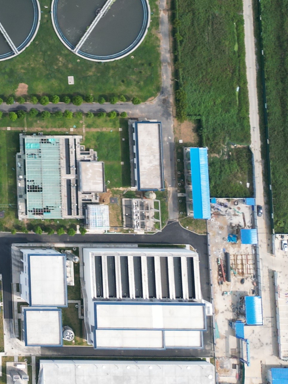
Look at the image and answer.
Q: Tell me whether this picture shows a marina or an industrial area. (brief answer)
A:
industrial area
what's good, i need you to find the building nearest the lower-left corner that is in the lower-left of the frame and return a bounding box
[20,305,62,346]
